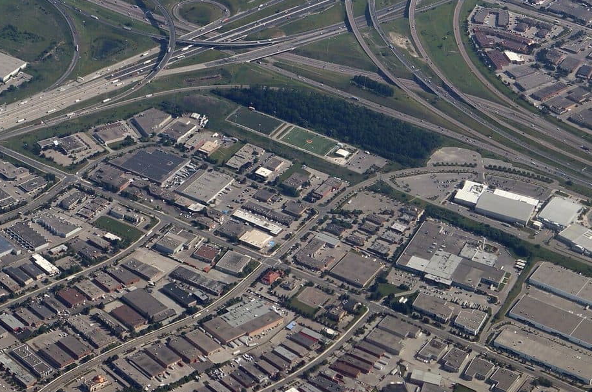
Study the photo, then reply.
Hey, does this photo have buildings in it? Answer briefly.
Yes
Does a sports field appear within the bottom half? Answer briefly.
No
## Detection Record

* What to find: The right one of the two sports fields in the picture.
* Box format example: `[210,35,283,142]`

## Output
[280,127,337,156]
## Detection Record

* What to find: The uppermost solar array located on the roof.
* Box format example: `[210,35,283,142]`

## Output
[122,150,184,179]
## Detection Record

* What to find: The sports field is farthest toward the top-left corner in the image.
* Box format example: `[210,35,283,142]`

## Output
[227,107,284,134]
